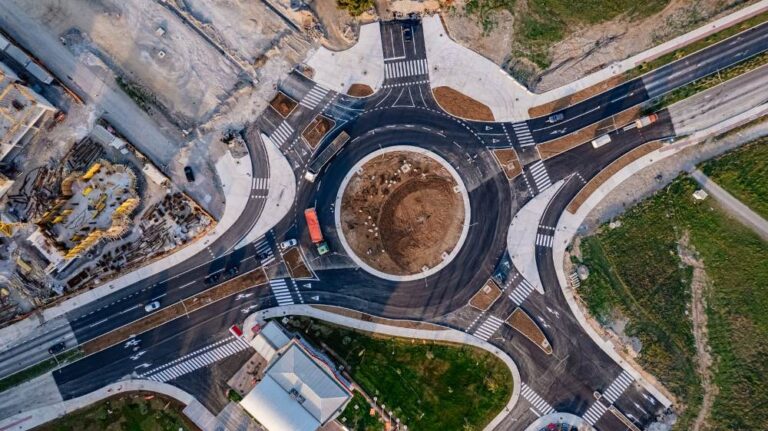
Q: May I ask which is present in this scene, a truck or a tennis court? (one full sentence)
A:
Visible in the photo is a truck.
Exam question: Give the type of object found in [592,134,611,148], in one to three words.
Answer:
vehicle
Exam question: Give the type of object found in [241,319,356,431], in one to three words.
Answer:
building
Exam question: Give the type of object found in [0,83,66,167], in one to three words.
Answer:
building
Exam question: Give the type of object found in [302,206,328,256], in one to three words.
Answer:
truck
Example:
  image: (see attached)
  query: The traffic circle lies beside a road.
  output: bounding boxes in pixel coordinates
[268,100,515,325]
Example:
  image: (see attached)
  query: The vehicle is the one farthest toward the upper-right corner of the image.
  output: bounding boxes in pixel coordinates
[636,110,664,129]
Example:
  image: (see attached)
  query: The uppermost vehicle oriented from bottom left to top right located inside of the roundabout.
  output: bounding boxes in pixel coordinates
[303,128,350,181]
